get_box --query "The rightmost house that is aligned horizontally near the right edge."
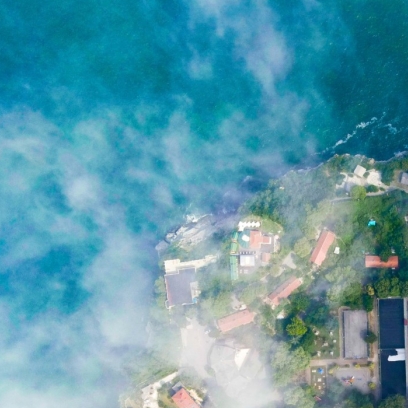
[364,256,398,270]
